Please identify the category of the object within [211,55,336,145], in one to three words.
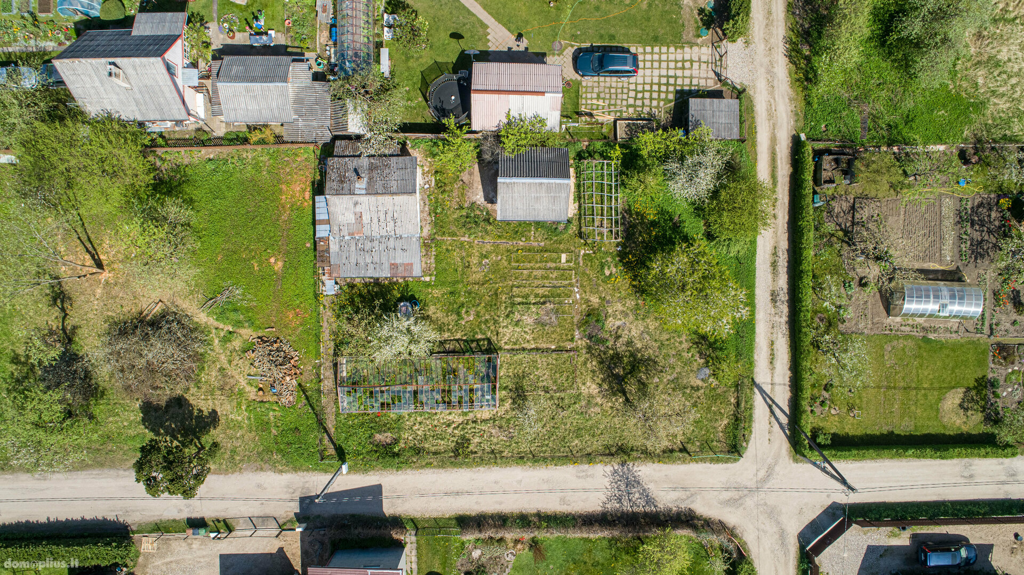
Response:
shed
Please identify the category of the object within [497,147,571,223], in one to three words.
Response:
shed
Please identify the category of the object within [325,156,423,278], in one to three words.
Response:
house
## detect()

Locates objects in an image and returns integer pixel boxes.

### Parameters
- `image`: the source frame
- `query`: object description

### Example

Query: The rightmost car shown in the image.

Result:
[916,541,974,573]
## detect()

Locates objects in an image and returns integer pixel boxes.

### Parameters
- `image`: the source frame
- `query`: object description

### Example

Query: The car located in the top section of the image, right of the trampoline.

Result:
[577,46,641,79]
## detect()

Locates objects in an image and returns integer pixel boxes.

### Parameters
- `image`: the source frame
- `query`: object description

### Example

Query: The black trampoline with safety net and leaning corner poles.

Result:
[424,65,471,119]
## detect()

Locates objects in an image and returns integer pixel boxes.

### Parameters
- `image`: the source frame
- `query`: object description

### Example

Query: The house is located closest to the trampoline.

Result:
[471,61,563,136]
